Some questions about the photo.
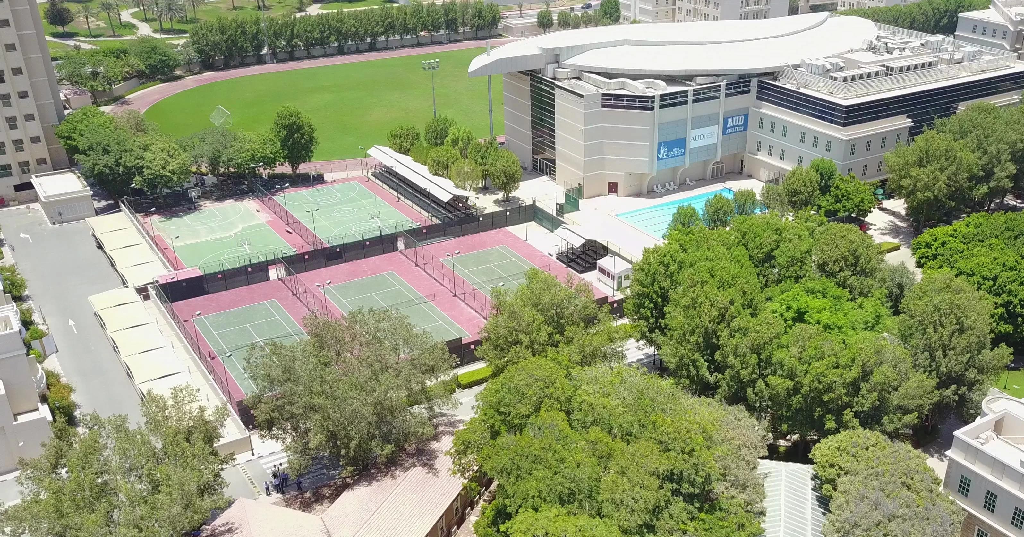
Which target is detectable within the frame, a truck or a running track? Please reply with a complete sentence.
Visible in the photo is a running track.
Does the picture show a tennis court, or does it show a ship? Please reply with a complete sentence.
It is a tennis court that can be seen here.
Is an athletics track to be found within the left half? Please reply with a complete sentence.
Yes, there is an athletics track within the left half.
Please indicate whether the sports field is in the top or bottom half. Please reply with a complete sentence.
The sports field sits in the top half of the picture.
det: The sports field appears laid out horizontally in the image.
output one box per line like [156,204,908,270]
[140,46,513,154]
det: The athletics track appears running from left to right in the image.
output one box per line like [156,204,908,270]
[102,39,513,165]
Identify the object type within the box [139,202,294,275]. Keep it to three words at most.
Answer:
basketball court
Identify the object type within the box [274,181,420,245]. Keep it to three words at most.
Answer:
basketball court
